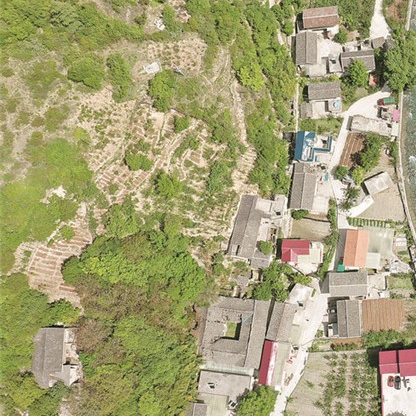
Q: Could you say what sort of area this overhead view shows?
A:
residential area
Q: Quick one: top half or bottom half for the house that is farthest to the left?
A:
bottom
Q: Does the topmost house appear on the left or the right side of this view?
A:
right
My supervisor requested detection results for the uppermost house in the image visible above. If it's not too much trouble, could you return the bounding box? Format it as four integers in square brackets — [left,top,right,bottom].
[303,5,340,36]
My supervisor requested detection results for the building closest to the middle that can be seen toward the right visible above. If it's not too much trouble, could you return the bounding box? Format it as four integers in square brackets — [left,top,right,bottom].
[228,194,290,267]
